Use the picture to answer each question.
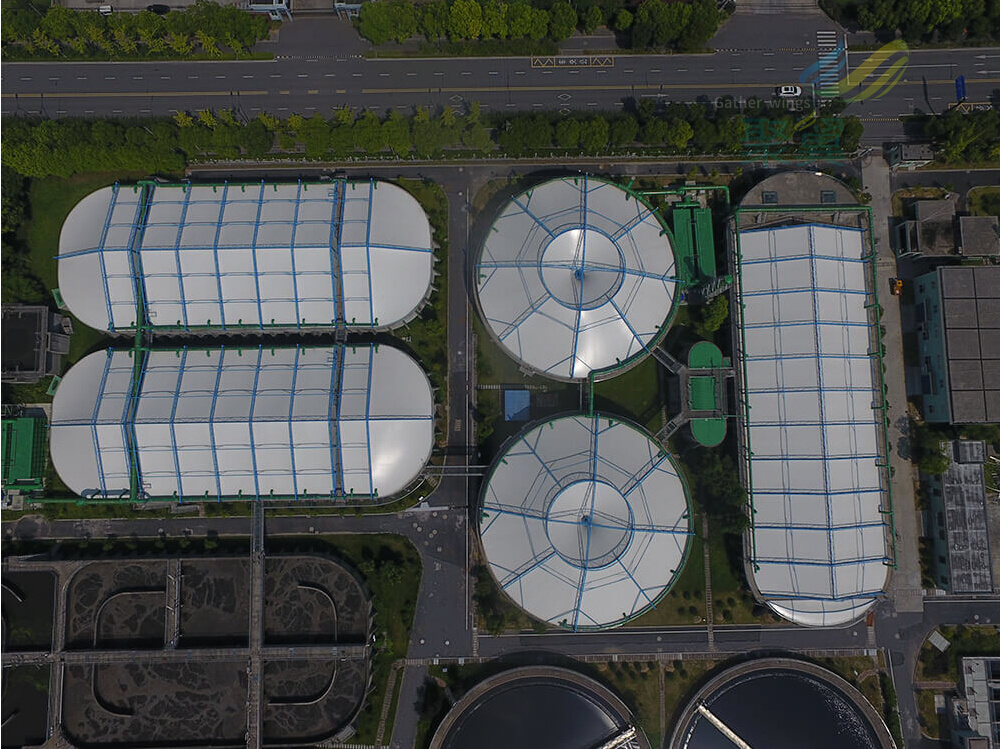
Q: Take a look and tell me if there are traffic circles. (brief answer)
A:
No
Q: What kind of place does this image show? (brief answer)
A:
industrial area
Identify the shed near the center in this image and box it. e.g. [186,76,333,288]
[505,391,529,420]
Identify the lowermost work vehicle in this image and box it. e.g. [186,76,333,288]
[891,280,904,297]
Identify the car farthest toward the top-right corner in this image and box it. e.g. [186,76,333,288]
[778,83,803,96]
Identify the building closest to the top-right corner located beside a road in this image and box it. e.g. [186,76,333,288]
[889,142,937,176]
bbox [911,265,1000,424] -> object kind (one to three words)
building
